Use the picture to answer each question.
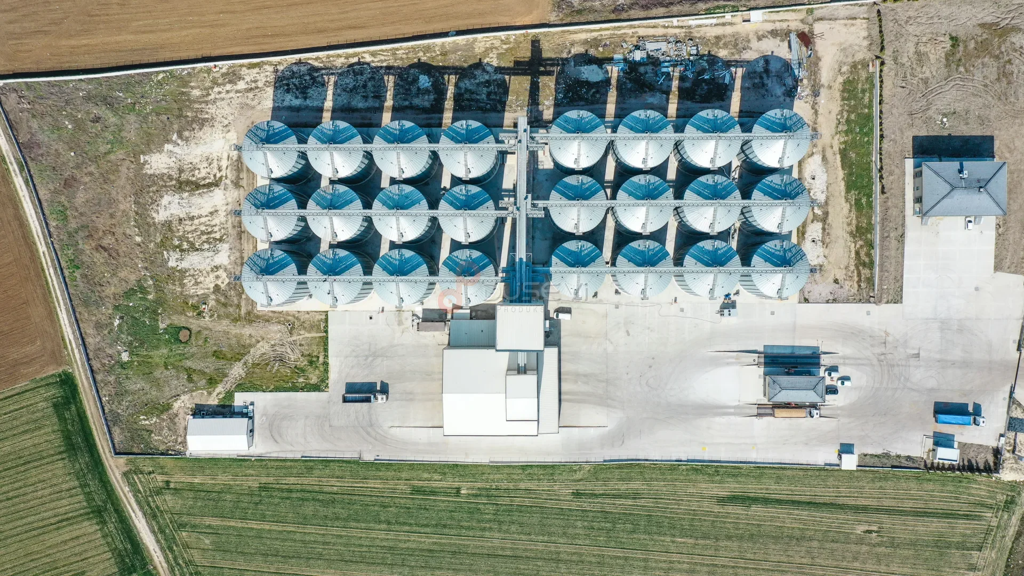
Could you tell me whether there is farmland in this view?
Yes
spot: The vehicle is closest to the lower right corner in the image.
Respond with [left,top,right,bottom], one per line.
[936,412,987,425]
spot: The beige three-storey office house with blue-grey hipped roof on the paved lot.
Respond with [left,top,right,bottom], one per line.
[913,161,1007,225]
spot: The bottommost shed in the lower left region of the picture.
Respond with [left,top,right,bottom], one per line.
[184,417,253,451]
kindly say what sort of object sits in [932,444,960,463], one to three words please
house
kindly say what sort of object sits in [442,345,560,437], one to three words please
building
